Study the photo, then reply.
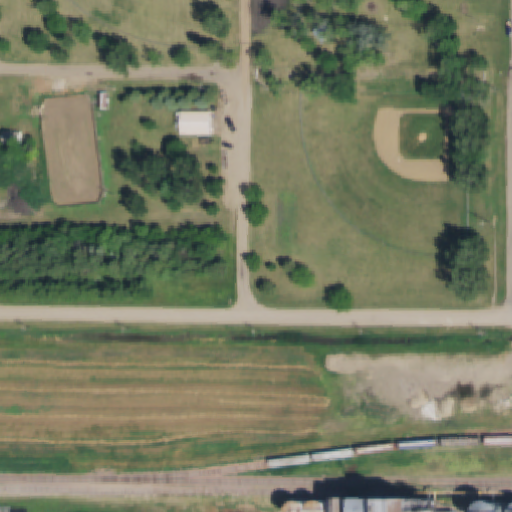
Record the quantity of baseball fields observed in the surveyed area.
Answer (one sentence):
My tally gives 1 baseball field in this photo.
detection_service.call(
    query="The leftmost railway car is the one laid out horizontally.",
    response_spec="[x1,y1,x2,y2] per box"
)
[267,454,311,469]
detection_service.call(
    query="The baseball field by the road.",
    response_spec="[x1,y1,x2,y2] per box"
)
[299,84,468,256]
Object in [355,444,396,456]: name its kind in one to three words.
rail car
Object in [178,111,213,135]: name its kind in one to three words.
shed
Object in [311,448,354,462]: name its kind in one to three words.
rail car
